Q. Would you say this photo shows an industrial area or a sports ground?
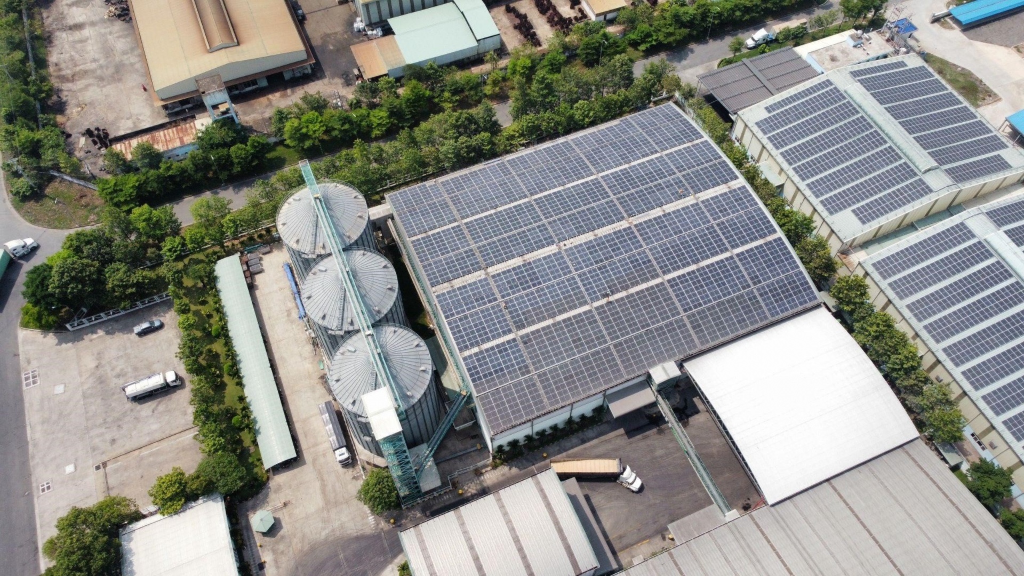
industrial area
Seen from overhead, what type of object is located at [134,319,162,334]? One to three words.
vehicle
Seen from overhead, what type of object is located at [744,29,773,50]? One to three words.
truck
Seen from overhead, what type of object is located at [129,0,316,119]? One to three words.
building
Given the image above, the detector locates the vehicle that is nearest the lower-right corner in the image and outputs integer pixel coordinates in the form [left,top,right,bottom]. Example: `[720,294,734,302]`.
[604,467,648,496]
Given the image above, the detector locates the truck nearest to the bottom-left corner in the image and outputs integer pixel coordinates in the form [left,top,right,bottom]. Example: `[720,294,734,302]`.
[117,370,185,401]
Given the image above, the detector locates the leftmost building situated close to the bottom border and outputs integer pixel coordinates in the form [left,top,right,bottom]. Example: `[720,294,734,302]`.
[117,489,244,576]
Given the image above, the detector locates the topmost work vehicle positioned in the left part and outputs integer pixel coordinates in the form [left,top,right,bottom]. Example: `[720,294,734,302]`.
[292,6,306,19]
